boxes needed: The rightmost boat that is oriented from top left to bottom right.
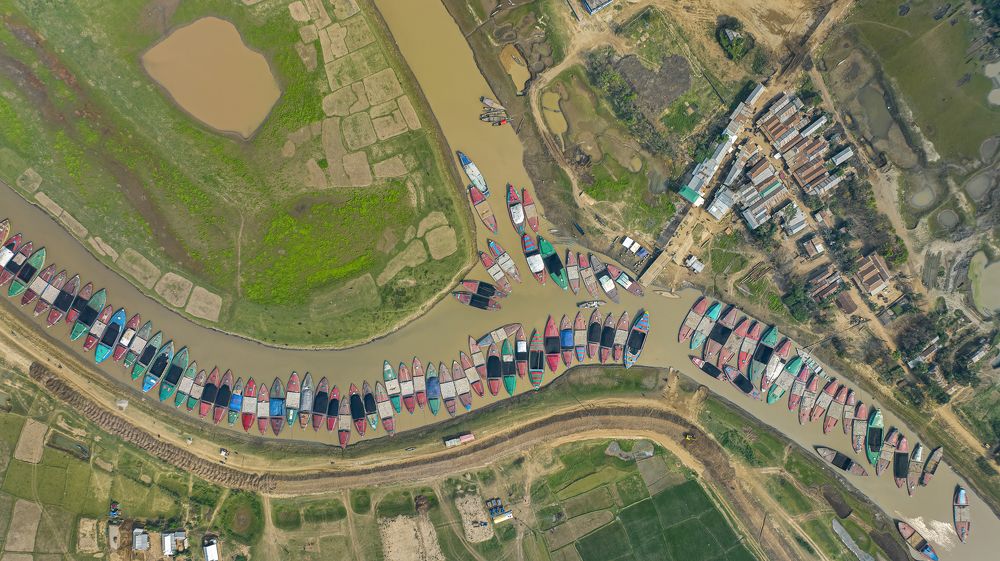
[894,519,939,561]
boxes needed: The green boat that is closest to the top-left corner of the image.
[7,246,48,299]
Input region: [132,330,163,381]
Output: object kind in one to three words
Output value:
boat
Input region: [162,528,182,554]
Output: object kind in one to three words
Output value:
house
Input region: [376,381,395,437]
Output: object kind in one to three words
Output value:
boat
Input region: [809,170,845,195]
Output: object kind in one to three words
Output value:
shed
